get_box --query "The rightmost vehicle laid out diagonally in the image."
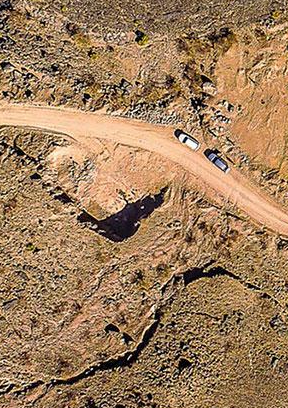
[206,154,229,174]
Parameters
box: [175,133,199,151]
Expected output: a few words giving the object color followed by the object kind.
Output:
white car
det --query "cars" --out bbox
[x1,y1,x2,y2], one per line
[206,154,229,174]
[175,133,199,151]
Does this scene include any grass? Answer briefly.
Yes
